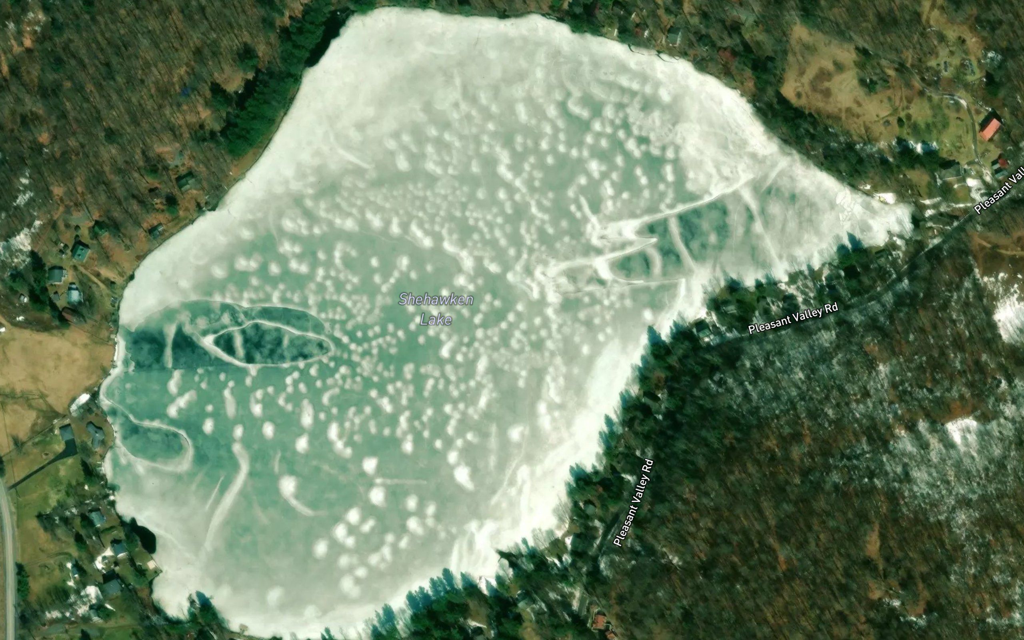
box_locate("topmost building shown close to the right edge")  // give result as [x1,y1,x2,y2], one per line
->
[973,113,1001,141]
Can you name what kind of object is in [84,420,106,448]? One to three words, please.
house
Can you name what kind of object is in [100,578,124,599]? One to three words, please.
house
